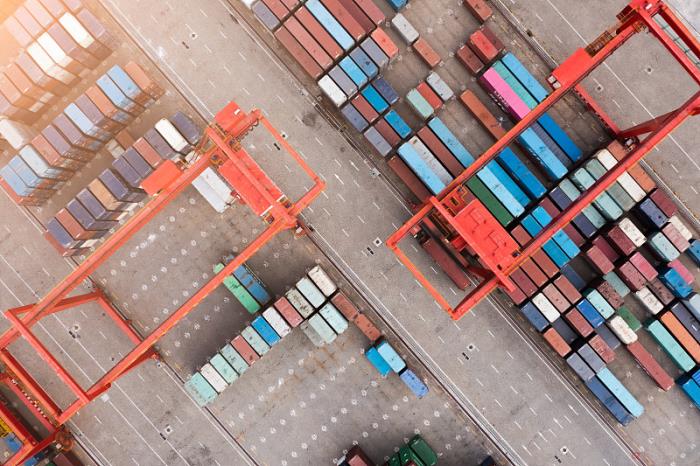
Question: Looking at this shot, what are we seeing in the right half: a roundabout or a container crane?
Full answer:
Visible in the right half is a container crane.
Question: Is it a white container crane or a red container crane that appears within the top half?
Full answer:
It is a red container crane that can be seen within the top half.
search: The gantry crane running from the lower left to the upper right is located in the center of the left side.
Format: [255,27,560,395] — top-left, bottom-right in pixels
[0,101,329,426]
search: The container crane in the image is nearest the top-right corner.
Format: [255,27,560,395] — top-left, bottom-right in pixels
[388,0,700,320]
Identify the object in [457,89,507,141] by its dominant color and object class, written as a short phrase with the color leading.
red shipping container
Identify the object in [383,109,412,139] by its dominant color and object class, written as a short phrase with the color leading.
blue shipping container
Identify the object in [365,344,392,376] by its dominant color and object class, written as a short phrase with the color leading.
blue shipping container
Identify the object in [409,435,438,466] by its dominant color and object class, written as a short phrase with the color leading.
green shipping container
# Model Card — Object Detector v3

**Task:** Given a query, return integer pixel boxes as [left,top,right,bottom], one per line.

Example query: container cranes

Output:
[0,101,329,426]
[0,365,72,466]
[388,0,700,320]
